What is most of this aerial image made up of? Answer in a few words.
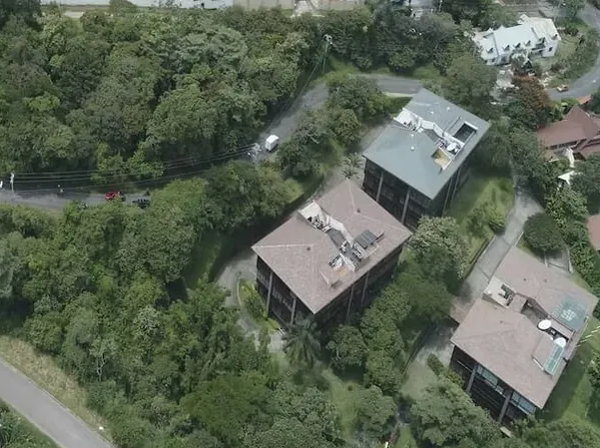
trees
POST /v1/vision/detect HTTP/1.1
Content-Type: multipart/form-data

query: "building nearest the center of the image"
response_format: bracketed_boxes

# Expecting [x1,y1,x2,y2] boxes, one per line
[250,179,413,344]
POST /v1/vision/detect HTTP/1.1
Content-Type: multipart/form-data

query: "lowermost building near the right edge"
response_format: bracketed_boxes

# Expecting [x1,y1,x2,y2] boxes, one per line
[442,245,599,439]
